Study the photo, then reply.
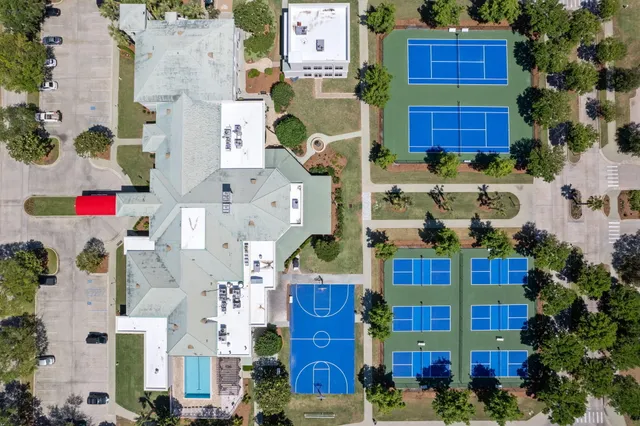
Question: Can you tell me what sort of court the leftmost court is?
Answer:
basketball court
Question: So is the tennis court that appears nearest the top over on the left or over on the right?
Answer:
right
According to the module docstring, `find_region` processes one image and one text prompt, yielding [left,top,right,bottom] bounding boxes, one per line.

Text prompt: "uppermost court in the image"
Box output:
[408,34,508,89]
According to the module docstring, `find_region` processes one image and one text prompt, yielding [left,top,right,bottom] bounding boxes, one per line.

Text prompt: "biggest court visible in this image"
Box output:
[290,284,355,395]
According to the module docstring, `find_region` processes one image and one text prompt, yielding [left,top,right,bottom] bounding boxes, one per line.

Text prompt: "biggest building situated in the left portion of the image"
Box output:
[116,4,331,391]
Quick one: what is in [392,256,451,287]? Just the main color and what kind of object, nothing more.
blue sports court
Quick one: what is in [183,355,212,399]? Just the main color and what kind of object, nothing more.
blue swimming pool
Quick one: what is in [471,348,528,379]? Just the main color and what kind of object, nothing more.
blue sports court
